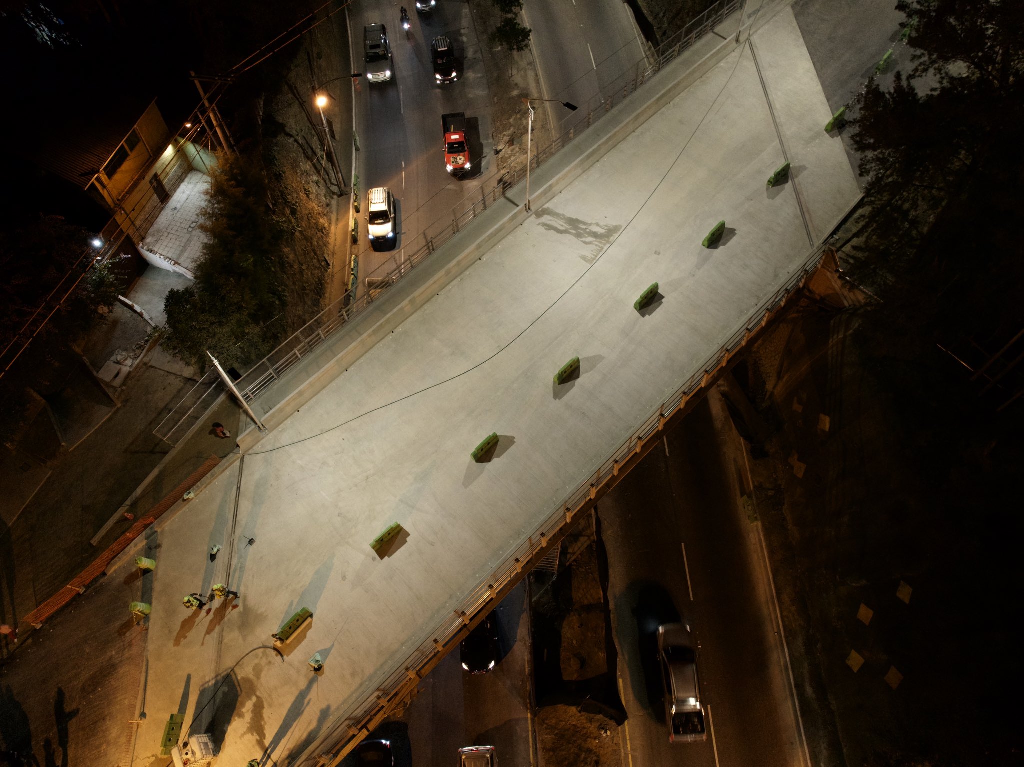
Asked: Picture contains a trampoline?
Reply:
No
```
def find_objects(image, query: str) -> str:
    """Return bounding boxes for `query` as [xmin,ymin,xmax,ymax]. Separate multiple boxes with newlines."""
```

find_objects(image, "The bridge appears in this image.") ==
[205,0,861,767]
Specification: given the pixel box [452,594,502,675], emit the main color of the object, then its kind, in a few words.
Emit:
black car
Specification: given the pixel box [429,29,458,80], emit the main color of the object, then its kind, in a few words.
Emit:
black car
